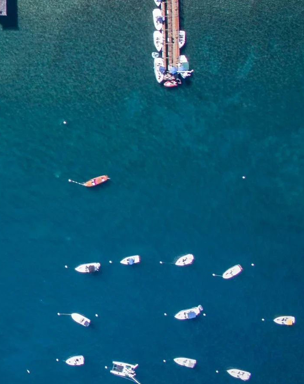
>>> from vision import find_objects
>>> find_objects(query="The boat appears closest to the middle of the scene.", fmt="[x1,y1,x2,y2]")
[84,174,110,186]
